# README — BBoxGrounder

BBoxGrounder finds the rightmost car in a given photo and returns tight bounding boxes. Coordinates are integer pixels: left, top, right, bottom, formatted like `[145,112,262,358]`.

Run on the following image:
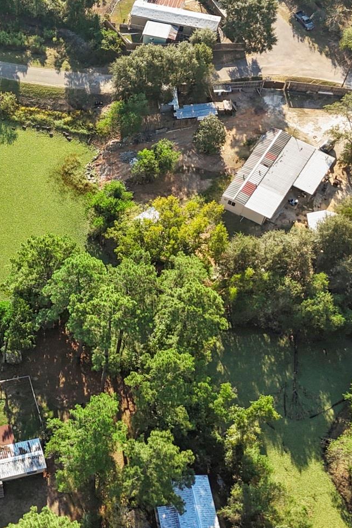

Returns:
[317,135,337,151]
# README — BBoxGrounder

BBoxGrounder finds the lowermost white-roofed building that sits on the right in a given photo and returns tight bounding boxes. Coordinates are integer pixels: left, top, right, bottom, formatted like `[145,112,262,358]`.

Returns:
[224,126,331,225]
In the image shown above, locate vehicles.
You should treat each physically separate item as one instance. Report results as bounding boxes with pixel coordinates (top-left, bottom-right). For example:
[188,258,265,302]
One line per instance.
[293,12,315,29]
[317,135,337,151]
